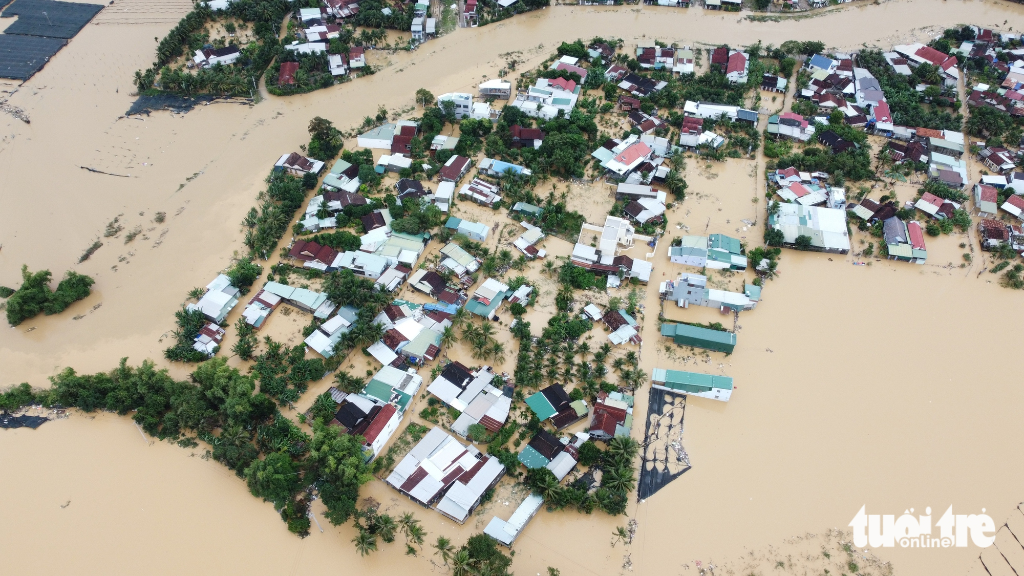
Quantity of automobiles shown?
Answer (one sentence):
The photo contains no automobiles.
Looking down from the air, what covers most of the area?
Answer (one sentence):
The scene is dominated by water.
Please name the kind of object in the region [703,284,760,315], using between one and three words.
house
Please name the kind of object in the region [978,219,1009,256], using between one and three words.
building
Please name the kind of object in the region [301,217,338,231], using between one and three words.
shed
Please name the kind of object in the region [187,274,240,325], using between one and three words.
house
